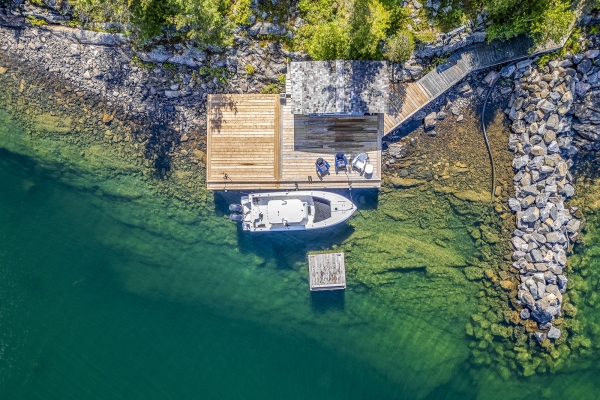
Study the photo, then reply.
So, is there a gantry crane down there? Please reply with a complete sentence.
No, no gantry crane can be seen from above.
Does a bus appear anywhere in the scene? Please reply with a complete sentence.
No, the scene contains no bus.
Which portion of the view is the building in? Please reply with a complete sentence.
The building appears toward the top of the photo.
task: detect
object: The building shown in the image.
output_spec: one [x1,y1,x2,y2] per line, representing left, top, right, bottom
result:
[289,57,389,119]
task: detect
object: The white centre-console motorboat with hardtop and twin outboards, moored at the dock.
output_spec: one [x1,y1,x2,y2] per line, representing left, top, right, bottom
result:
[229,190,360,231]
